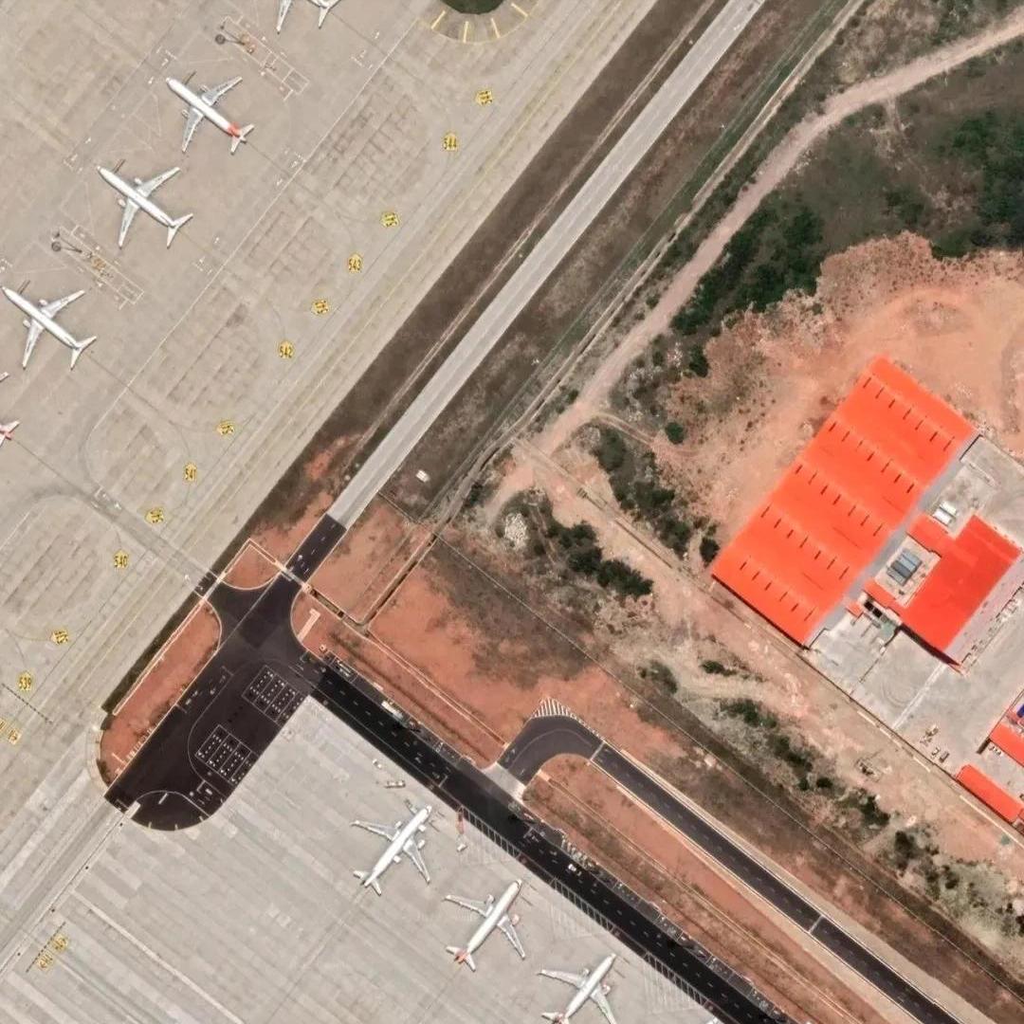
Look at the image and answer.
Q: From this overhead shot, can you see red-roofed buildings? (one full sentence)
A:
Yes, the picture does show a red-roofed building.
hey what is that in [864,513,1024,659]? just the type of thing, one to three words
building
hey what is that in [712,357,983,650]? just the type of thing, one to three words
building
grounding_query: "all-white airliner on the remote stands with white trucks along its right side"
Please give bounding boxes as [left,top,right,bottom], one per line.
[350,807,431,894]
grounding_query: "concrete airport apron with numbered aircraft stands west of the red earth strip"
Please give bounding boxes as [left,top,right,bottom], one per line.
[0,0,730,1024]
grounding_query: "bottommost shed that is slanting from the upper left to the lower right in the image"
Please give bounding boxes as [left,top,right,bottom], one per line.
[956,765,1024,824]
